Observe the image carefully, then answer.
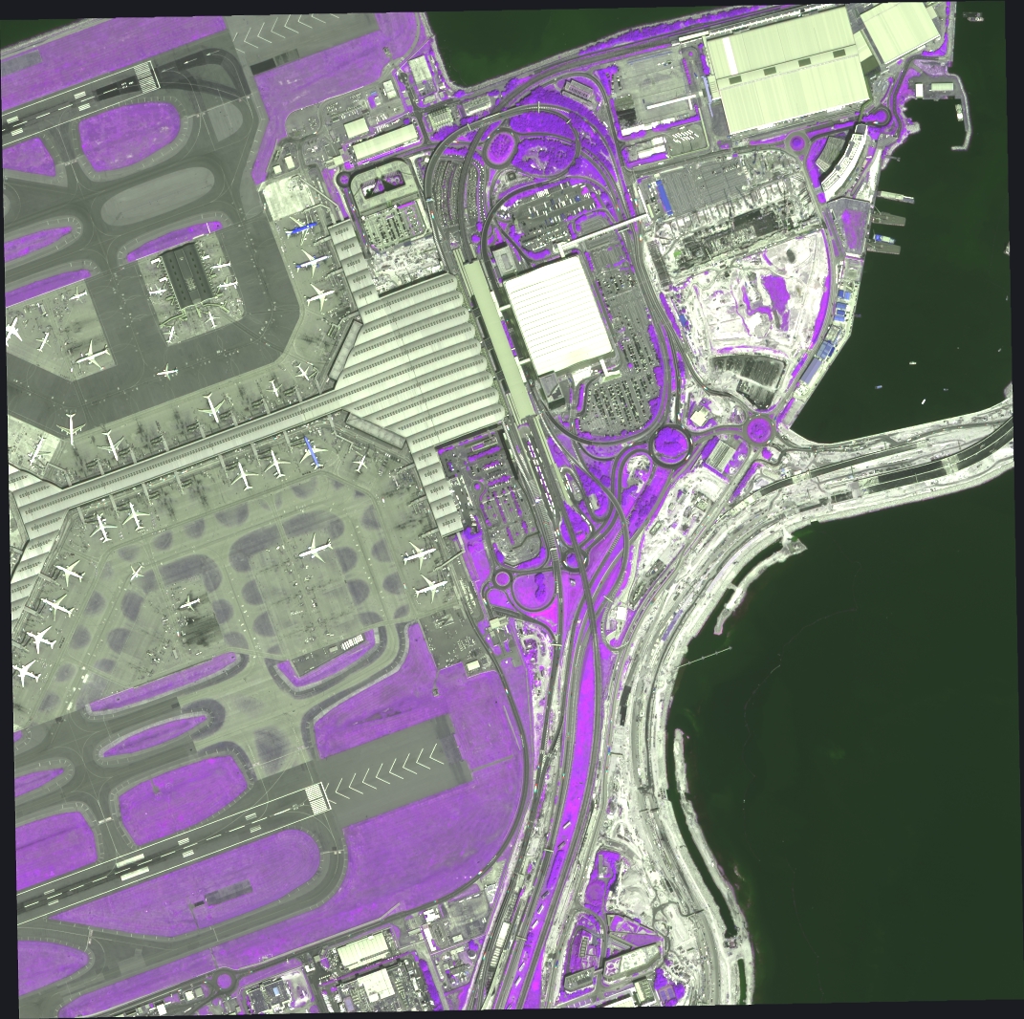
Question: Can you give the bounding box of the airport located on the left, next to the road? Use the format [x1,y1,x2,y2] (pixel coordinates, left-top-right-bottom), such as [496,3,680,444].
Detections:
[0,0,522,1019]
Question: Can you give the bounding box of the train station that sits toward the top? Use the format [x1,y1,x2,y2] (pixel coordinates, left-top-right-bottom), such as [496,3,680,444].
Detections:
[453,248,536,423]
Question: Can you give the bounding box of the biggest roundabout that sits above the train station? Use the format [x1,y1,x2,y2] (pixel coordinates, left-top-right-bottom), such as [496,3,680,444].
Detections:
[483,127,519,169]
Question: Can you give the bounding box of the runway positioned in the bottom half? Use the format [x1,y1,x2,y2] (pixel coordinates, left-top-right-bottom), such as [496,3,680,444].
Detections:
[0,781,332,933]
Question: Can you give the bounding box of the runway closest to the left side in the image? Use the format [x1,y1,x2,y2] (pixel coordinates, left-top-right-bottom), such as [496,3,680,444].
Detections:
[0,59,161,147]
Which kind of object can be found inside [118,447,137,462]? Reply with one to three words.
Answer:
jet bridge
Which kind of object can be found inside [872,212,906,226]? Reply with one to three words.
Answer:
pier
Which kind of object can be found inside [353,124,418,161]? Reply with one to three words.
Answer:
building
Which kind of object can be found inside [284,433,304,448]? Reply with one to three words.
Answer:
jet bridge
